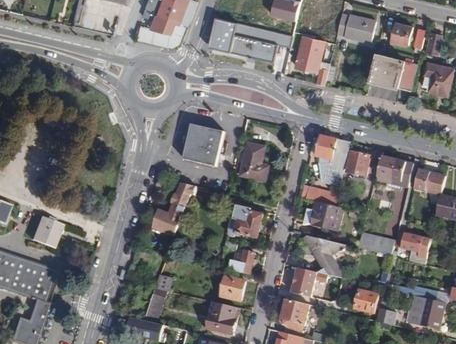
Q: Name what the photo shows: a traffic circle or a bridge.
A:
traffic circle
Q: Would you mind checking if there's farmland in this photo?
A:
No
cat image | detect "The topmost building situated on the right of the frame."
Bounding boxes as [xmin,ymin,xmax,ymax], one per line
[270,0,298,22]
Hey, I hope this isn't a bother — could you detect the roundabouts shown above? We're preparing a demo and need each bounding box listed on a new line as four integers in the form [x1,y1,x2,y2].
[120,52,184,118]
